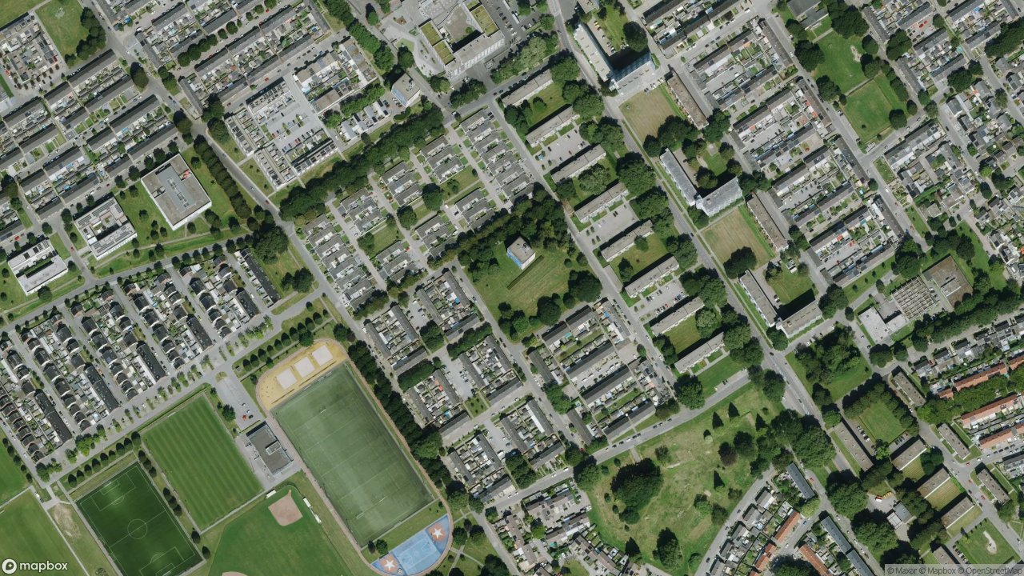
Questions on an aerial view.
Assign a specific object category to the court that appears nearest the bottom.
basketball court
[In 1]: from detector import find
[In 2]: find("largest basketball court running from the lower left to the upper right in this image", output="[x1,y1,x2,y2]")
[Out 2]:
[371,514,450,575]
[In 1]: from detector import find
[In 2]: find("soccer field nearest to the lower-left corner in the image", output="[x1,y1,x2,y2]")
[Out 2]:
[76,461,205,576]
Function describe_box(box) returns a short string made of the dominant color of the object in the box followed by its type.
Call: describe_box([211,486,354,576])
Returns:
green baseball field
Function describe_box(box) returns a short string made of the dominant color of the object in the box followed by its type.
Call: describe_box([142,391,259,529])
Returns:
green sports field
